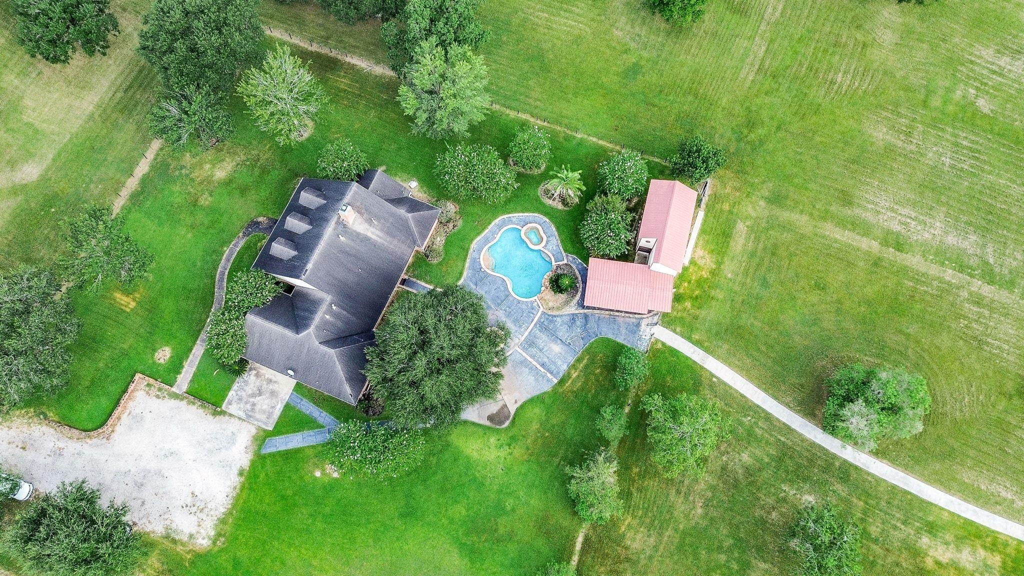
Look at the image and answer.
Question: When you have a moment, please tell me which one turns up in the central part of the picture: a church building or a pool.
pool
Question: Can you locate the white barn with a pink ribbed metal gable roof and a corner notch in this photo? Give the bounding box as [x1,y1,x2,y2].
[630,180,697,276]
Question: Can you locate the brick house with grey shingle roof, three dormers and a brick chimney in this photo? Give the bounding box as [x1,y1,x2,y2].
[238,166,442,406]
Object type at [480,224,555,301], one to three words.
swimming pool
